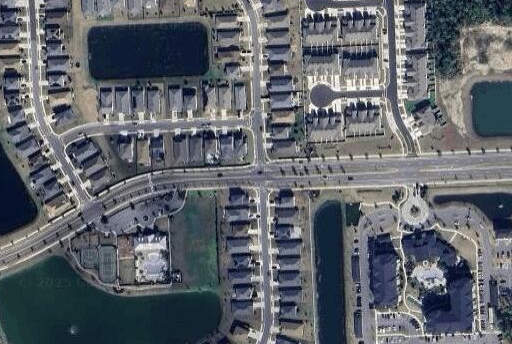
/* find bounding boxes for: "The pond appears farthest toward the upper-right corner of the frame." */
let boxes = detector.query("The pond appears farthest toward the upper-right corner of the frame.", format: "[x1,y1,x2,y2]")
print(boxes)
[471,80,512,138]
